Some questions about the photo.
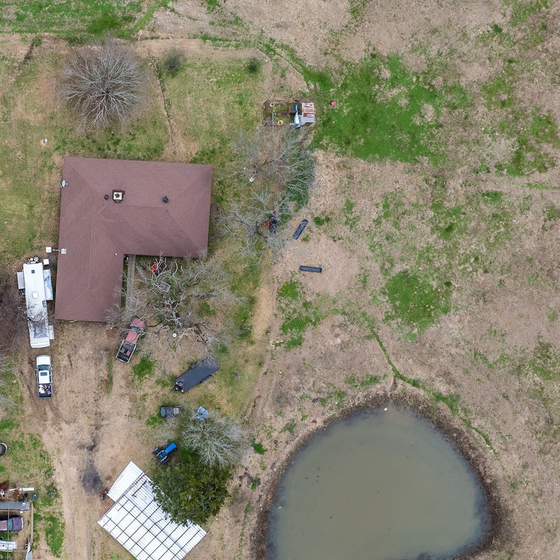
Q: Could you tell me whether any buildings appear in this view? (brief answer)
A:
Yes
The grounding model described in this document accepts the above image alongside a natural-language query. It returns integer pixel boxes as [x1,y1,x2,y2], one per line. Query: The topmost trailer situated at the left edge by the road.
[17,257,56,348]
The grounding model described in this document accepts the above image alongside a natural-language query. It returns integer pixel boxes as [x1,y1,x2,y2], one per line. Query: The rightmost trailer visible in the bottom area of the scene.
[173,356,219,394]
